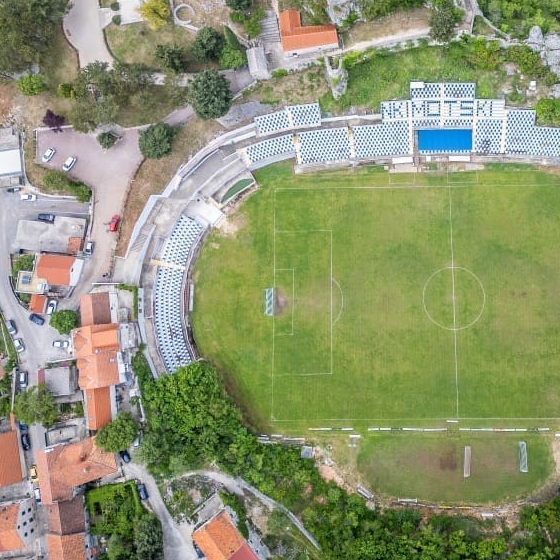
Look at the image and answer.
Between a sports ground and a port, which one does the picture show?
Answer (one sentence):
What you see here is a sports ground.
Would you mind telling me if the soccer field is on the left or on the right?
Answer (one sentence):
The soccer field sits on the right side.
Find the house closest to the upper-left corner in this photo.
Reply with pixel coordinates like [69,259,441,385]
[0,150,28,177]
